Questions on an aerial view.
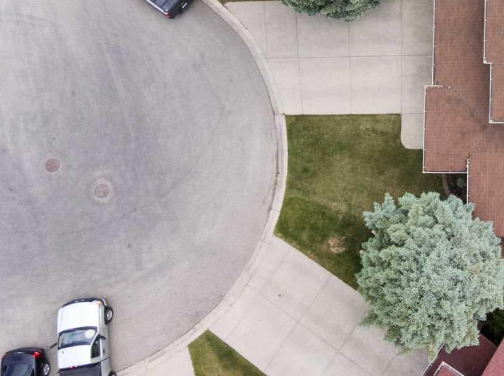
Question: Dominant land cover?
paved ground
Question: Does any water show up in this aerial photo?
No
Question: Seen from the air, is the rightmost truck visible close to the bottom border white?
Yes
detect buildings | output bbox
[421,312,504,376]
[422,0,504,237]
